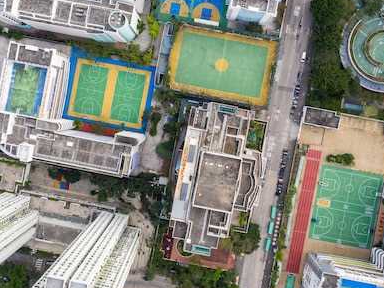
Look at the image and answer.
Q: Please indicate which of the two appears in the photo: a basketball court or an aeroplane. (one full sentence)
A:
The one in the frame is a basketball court.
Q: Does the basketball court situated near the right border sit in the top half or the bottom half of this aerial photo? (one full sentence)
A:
The basketball court situated near the right border sits in the bottom half of the picture.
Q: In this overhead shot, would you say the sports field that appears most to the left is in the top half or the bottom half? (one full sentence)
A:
It is in the top half that the sports field that appears most to the left appears.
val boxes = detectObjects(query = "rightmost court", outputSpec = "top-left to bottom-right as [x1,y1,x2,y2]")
[306,166,384,251]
